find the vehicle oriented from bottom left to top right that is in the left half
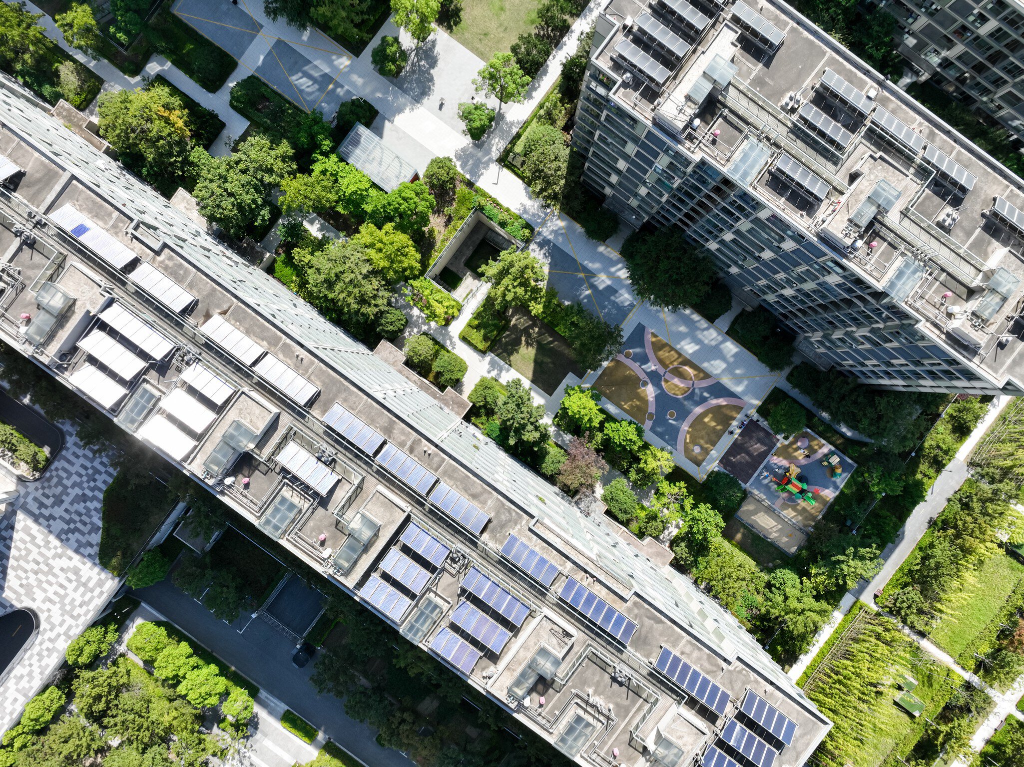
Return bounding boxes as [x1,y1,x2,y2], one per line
[291,642,316,672]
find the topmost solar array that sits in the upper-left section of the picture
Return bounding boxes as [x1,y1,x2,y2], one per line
[0,154,26,186]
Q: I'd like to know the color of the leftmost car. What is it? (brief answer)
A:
black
